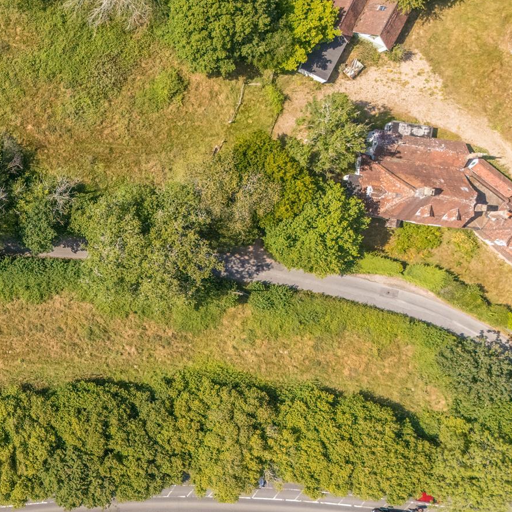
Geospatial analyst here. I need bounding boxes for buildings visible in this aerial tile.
[340,133,504,229]
[291,30,348,84]
[350,0,414,51]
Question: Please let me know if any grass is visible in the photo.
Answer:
Yes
